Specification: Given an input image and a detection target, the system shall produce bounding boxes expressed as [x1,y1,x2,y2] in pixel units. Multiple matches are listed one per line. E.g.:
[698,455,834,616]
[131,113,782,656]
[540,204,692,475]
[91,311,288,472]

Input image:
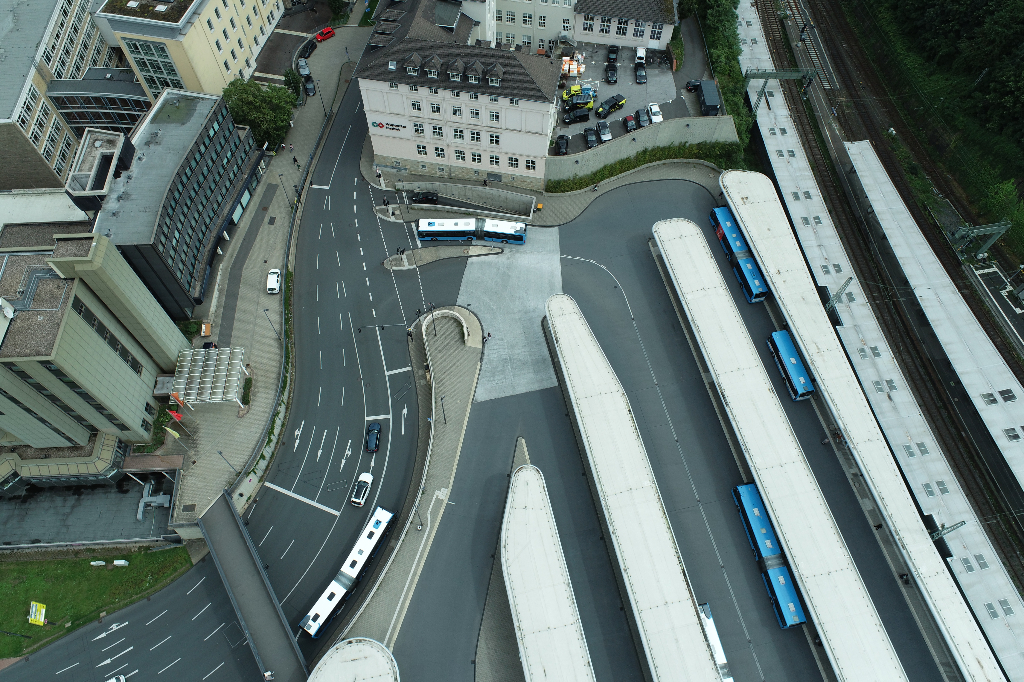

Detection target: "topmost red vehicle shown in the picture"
[315,25,336,41]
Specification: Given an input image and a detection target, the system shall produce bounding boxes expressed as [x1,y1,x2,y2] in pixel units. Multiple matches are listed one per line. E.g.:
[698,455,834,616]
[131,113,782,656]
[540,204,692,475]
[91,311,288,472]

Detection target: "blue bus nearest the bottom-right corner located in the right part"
[730,481,801,625]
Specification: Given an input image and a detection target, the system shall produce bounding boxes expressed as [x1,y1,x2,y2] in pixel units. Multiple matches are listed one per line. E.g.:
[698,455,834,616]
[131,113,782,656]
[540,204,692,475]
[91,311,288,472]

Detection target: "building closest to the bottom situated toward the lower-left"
[0,468,182,555]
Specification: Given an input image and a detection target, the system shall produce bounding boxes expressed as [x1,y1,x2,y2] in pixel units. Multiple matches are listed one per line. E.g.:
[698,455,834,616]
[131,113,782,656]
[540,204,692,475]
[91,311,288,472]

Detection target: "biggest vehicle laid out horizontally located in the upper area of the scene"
[416,220,525,245]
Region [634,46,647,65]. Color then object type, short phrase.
white vehicle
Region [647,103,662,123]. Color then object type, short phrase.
white car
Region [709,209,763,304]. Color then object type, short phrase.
blue bus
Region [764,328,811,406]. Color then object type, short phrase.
blue bus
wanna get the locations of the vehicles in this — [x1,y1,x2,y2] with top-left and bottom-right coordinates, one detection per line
[583,127,598,149]
[315,25,336,41]
[298,39,318,57]
[366,422,381,454]
[730,481,801,625]
[563,108,590,125]
[596,121,612,143]
[349,473,372,507]
[635,108,649,128]
[598,96,625,116]
[606,64,618,83]
[302,76,316,96]
[267,268,282,295]
[622,114,636,133]
[564,82,593,100]
[608,47,619,63]
[416,220,525,245]
[412,191,439,202]
[702,76,722,118]
[635,64,647,83]
[647,103,662,123]
[297,58,311,76]
[566,92,593,111]
[764,328,811,406]
[709,209,763,304]
[634,46,647,65]
[300,505,395,642]
[196,337,225,352]
[683,77,705,92]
